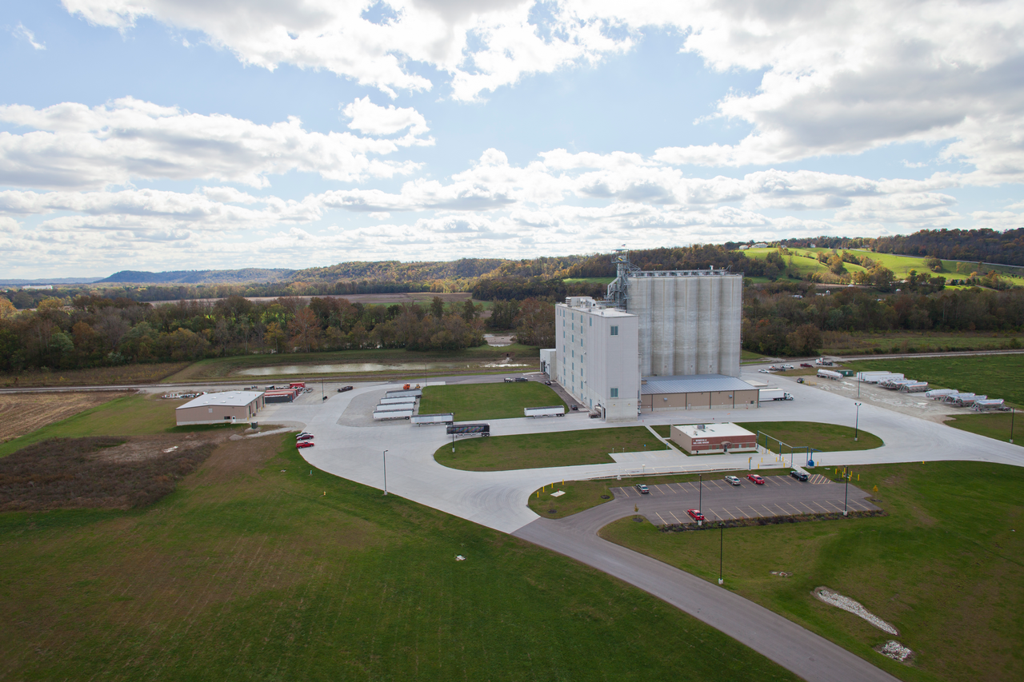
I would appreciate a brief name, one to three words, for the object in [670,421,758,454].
building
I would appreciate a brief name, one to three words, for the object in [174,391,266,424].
building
